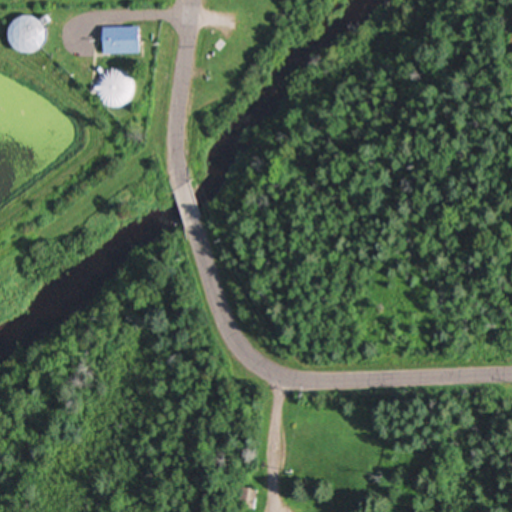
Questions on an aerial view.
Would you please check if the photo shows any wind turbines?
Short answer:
No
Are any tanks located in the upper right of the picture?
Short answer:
No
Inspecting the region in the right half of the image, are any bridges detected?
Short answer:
No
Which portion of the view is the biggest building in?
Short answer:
top left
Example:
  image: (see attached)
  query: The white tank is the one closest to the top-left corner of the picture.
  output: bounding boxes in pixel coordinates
[6,14,50,53]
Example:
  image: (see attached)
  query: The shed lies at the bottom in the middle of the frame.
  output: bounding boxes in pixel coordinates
[240,488,256,510]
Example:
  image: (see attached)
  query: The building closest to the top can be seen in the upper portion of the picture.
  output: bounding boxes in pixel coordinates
[100,24,142,53]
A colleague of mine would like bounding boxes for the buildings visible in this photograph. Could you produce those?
[100,24,142,53]
[240,488,256,510]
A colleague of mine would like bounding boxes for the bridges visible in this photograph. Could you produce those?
[174,181,204,240]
